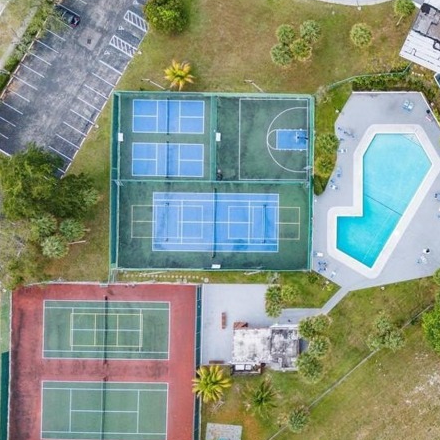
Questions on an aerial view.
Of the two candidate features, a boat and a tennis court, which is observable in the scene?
tennis court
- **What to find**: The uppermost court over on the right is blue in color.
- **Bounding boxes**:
[268,99,309,172]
